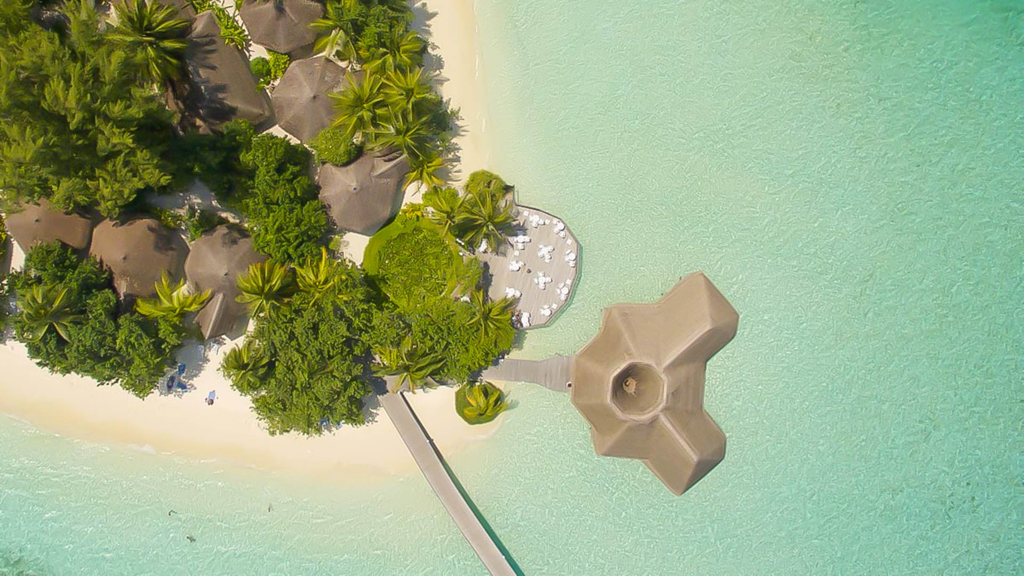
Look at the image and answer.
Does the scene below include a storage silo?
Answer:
No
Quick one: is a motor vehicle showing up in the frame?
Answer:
No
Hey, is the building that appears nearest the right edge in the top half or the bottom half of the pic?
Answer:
bottom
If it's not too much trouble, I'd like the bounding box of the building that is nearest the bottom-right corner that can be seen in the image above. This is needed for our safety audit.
[571,270,739,496]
